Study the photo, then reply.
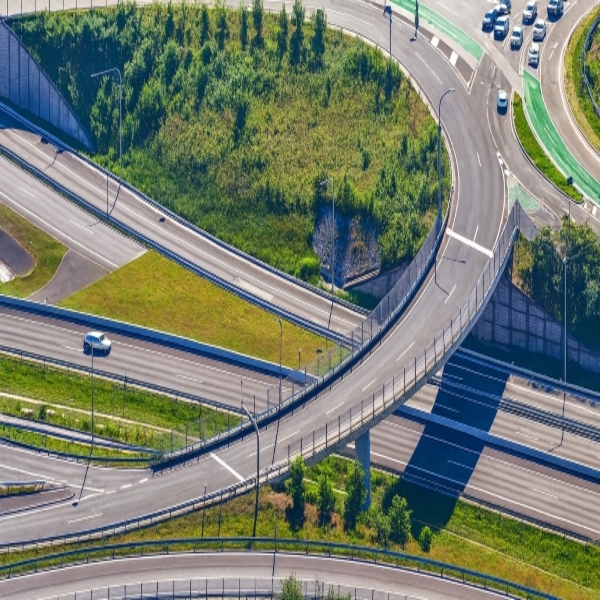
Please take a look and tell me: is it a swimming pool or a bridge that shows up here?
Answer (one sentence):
Looking from above, you can make out a bridge.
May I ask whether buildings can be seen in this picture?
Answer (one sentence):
No, no building is visible in the view.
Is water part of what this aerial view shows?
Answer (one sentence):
No, no water is visible.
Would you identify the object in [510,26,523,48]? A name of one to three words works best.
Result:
vehicle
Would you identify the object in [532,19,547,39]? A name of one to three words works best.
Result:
car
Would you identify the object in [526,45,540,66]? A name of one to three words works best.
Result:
car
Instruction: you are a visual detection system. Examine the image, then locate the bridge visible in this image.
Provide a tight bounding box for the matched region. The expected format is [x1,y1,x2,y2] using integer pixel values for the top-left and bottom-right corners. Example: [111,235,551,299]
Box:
[135,199,515,504]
